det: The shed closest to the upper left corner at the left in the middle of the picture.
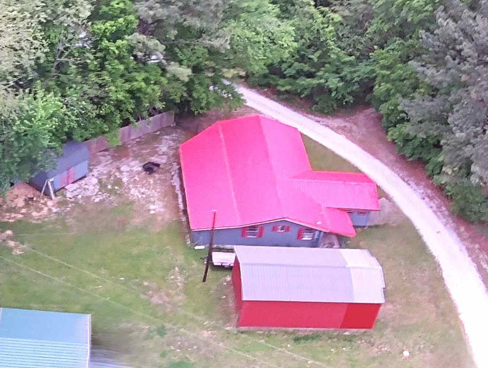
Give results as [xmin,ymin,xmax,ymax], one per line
[32,146,92,192]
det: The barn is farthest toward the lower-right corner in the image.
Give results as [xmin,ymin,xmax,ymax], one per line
[228,246,386,329]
